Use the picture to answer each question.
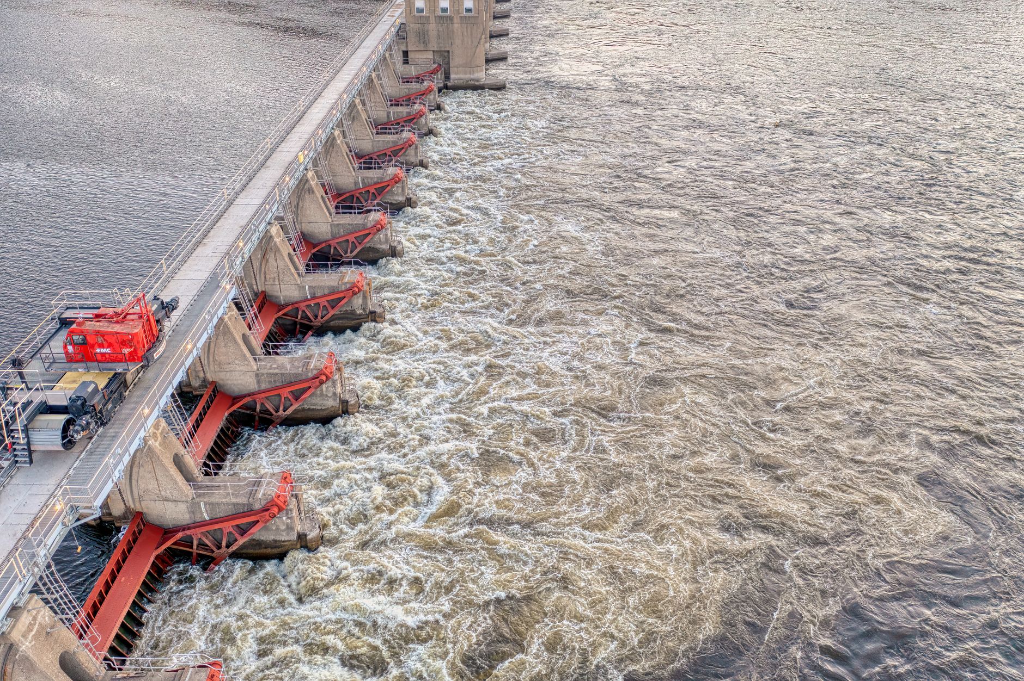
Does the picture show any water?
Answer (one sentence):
Yes, the picture does contain water.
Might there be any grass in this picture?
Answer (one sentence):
No, there's no grass in this view.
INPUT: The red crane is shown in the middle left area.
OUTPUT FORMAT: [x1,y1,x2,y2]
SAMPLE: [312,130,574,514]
[38,289,169,375]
